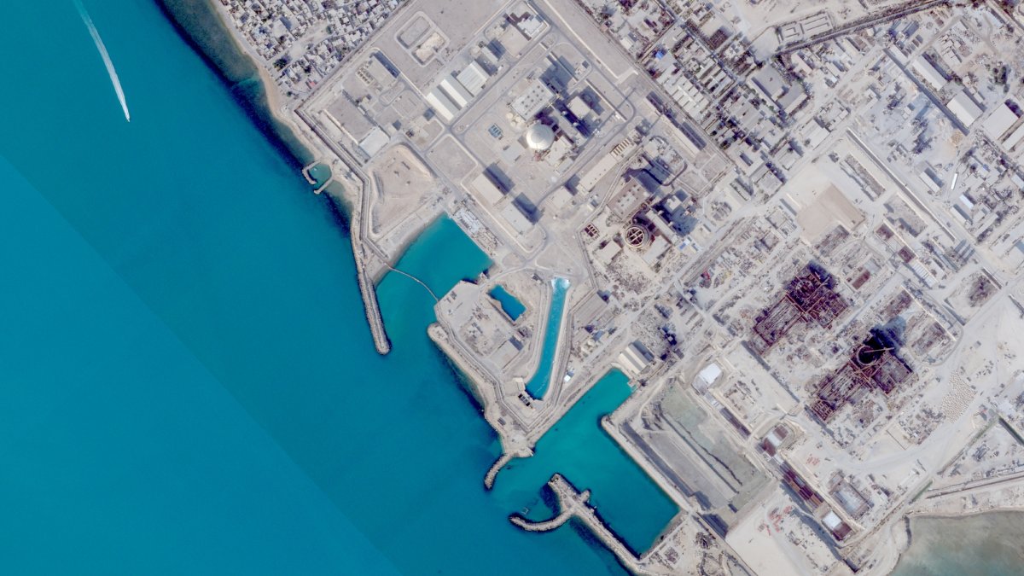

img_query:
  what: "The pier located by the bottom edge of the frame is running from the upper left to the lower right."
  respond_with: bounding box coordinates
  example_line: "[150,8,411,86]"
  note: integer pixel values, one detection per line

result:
[548,473,646,576]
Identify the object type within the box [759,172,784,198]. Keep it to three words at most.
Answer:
shed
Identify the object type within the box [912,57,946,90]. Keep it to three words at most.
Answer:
building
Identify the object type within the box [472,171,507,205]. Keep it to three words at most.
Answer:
building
